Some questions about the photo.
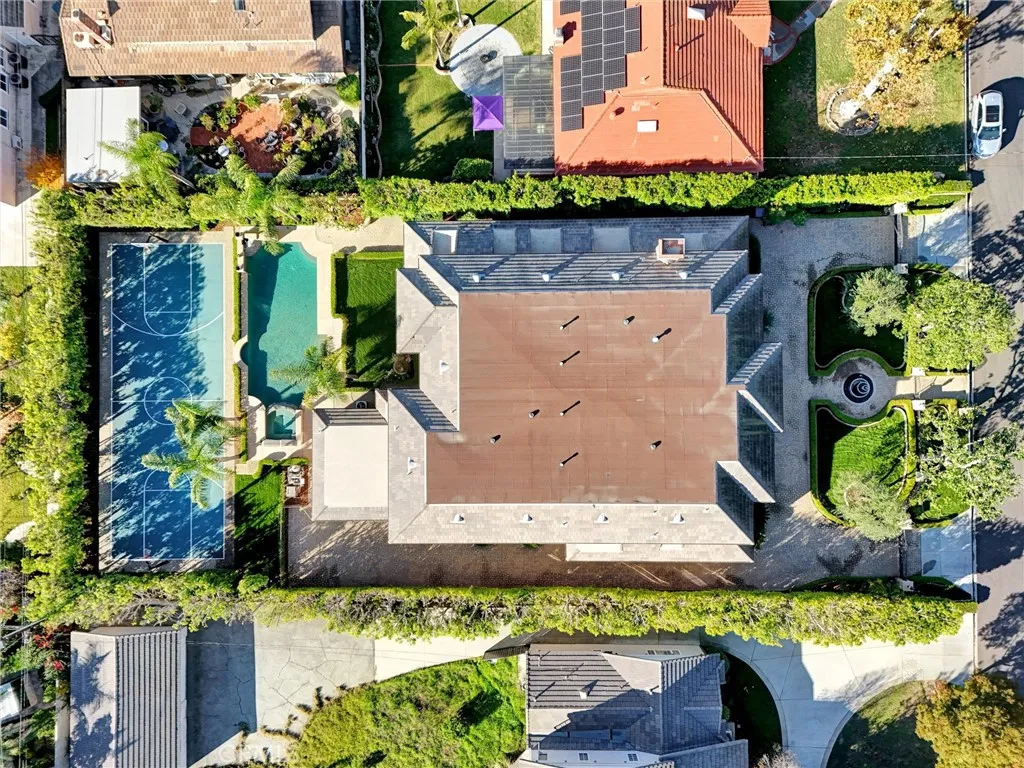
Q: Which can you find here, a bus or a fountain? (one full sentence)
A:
Looking from above, you can make out a fountain.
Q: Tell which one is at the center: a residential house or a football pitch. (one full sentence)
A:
Visible at the center is a residential house.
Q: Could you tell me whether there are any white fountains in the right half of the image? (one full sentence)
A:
No, no white fountain appears in the right half of the image.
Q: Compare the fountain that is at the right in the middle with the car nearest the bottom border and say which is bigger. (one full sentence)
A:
The car is larger than the fountain.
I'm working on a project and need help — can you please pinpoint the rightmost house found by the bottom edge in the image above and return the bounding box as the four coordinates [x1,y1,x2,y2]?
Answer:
[512,643,749,768]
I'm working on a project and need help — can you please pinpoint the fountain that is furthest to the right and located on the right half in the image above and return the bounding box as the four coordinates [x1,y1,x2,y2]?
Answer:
[843,373,876,403]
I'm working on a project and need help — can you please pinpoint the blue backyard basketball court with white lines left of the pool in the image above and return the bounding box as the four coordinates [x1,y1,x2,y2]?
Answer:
[98,231,234,569]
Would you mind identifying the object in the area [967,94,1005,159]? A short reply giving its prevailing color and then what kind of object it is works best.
white car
